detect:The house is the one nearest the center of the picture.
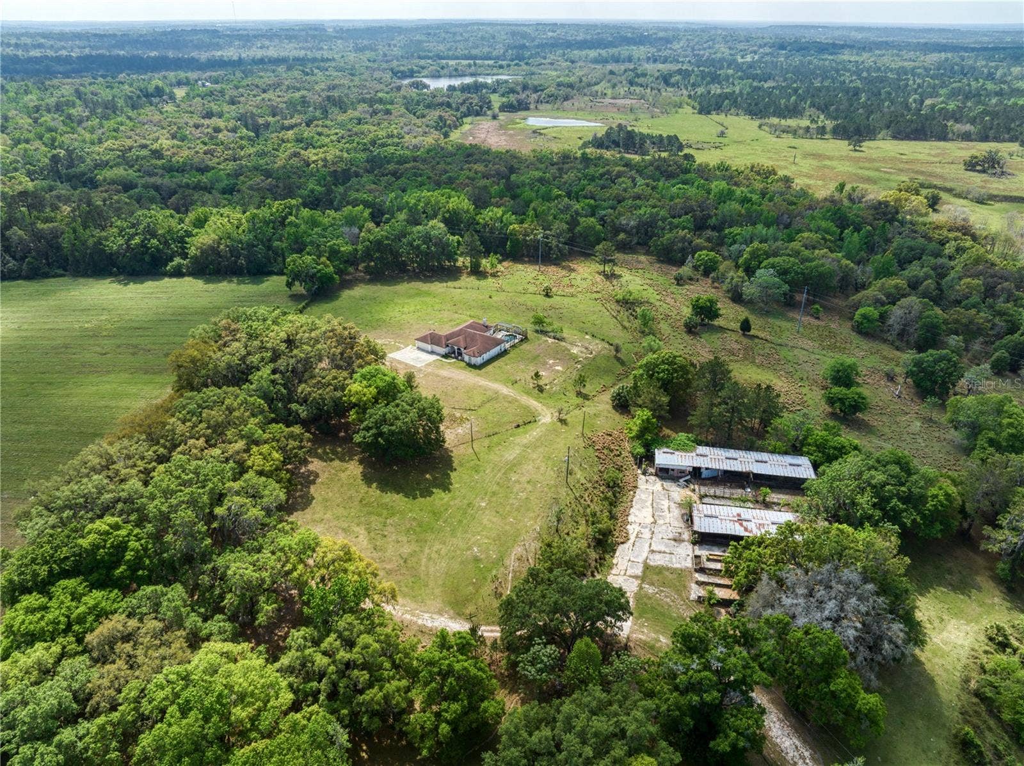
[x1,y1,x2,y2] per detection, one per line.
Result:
[412,319,508,366]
